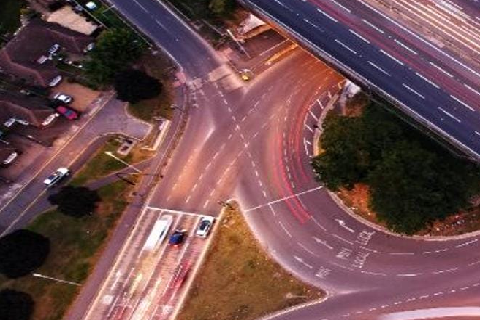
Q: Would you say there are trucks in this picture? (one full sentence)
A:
Yes, a truck can be made out from above.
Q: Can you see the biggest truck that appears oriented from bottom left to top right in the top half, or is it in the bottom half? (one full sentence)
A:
You can find the biggest truck that appears oriented from bottom left to top right in the bottom half.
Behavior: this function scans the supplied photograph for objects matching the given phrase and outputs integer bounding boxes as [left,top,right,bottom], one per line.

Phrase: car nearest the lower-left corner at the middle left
[44,166,71,188]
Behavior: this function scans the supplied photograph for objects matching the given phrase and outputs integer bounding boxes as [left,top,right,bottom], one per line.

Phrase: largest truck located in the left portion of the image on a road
[133,209,175,255]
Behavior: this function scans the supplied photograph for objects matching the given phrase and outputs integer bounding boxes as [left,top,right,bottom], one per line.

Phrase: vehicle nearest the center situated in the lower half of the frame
[196,215,214,239]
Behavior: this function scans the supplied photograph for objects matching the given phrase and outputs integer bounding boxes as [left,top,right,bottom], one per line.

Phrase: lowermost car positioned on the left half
[173,262,191,286]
